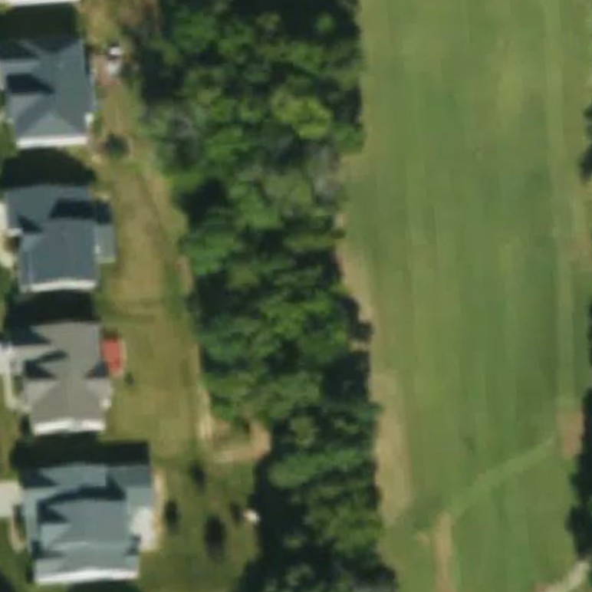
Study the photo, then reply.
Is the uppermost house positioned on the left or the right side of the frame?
left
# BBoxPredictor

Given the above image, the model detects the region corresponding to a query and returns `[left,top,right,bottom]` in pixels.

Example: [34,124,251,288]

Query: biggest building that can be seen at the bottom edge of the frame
[14,463,153,588]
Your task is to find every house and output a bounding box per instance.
[14,463,153,588]
[1,181,117,294]
[0,321,123,431]
[0,40,99,146]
